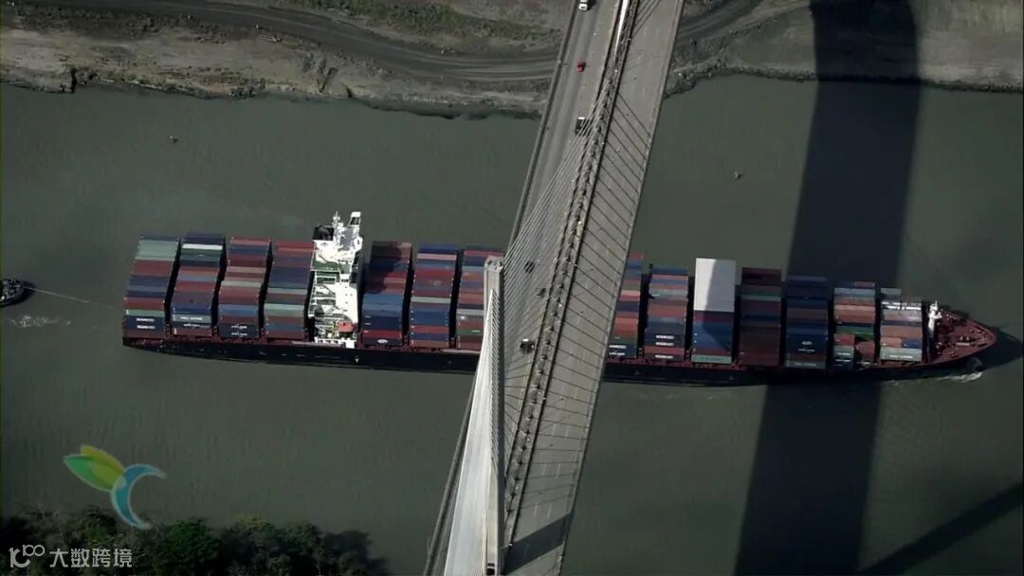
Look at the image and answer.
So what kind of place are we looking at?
port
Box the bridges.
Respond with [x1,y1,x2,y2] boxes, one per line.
[426,0,683,576]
